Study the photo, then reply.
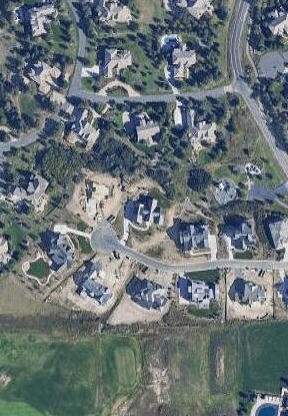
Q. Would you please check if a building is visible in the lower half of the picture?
Yes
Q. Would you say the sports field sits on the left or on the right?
right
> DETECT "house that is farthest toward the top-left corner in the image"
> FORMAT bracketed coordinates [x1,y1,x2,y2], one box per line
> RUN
[27,4,56,38]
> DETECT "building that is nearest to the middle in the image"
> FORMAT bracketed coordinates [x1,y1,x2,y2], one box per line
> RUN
[138,198,167,225]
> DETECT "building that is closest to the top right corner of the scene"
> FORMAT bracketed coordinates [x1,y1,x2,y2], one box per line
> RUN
[267,10,288,40]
